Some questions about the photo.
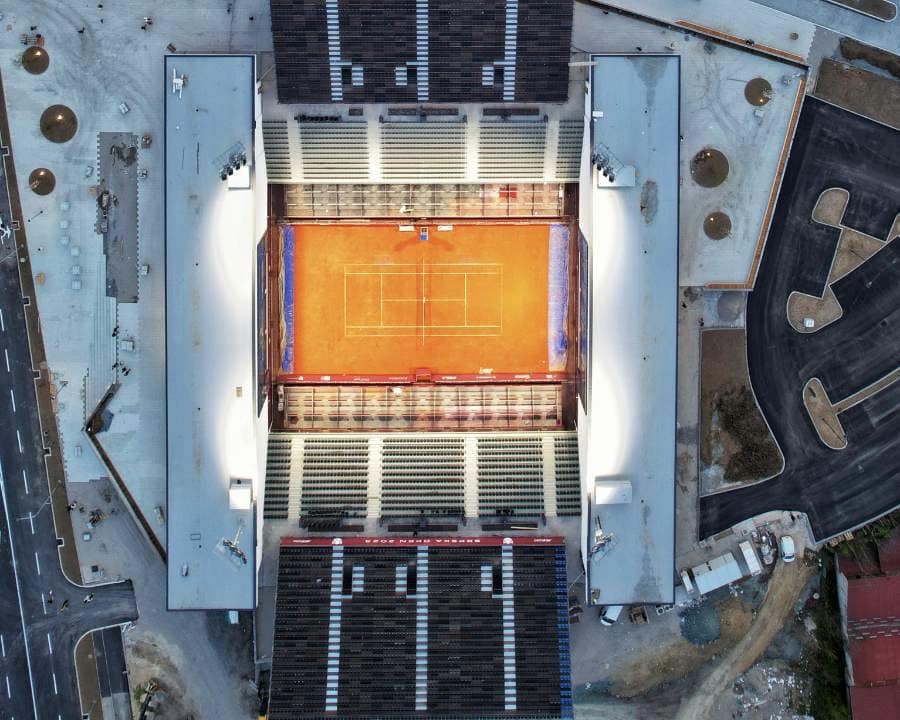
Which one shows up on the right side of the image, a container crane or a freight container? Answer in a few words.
freight container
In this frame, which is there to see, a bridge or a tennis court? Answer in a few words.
tennis court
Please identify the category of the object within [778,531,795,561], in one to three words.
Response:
car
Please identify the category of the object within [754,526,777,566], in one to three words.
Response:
truck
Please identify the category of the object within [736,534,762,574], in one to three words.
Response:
shipping container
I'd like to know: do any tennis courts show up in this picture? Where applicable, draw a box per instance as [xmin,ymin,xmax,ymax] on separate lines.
[273,217,572,384]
